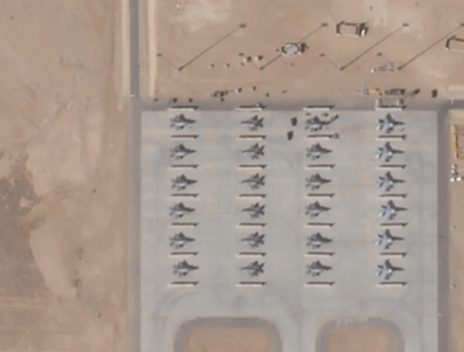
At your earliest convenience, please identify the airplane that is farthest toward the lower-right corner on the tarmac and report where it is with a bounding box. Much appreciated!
[375,261,400,278]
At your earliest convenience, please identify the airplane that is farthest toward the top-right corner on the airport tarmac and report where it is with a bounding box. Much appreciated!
[376,115,400,133]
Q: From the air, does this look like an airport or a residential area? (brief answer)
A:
airport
